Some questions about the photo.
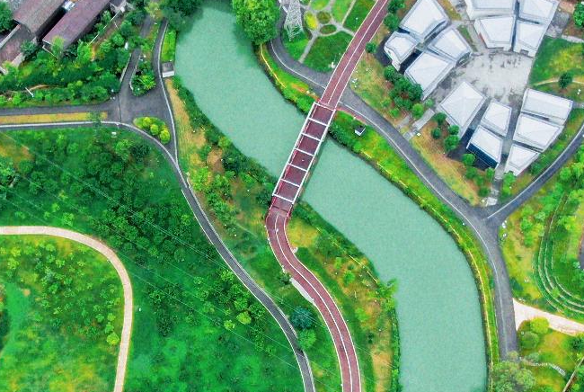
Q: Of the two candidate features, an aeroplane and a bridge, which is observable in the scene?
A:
bridge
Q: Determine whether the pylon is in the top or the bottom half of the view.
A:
top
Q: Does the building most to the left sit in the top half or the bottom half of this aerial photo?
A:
top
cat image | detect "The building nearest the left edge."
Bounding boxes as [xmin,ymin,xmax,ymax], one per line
[13,0,67,41]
